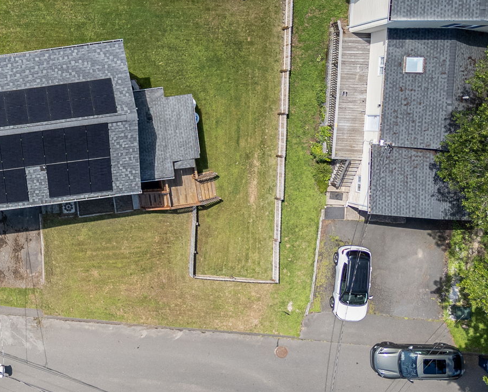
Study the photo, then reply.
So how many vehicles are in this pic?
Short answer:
2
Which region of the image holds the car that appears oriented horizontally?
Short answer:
bottom right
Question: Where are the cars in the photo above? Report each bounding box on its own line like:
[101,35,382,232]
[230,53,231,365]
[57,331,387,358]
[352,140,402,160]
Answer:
[368,339,464,386]
[329,243,375,322]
